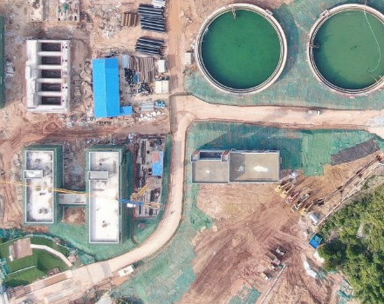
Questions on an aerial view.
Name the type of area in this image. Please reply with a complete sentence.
It's an industrial area.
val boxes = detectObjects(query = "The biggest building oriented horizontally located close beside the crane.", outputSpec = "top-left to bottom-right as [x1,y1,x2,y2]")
[191,148,280,183]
